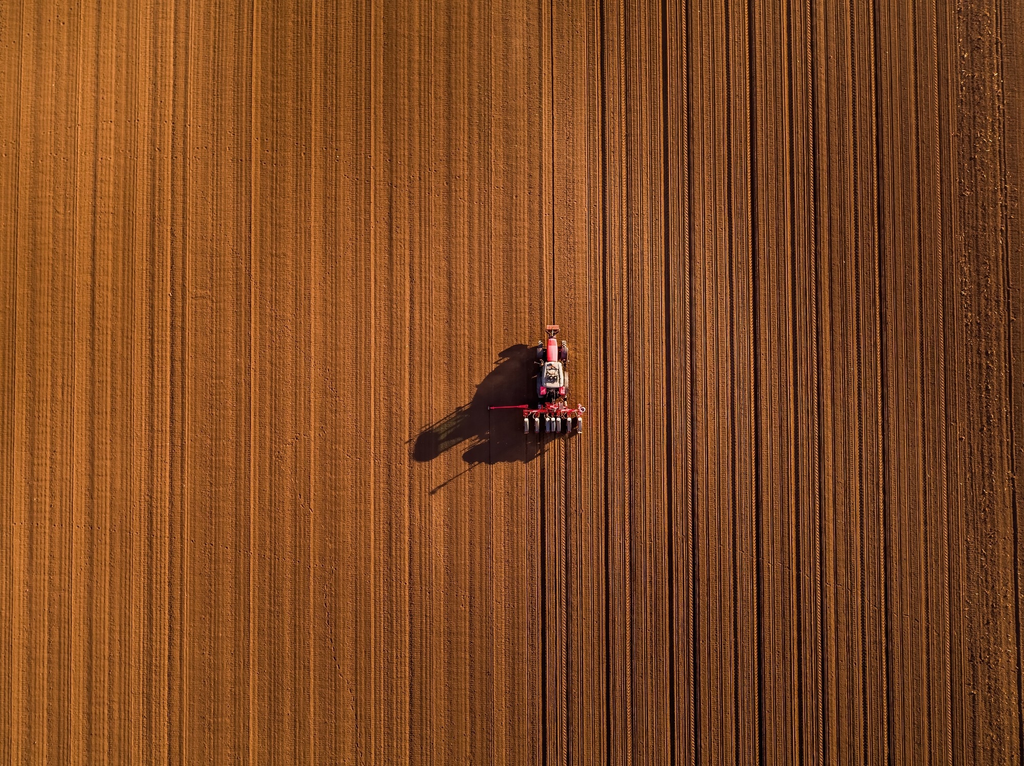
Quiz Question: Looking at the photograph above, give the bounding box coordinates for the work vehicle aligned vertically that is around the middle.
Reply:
[536,325,568,404]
